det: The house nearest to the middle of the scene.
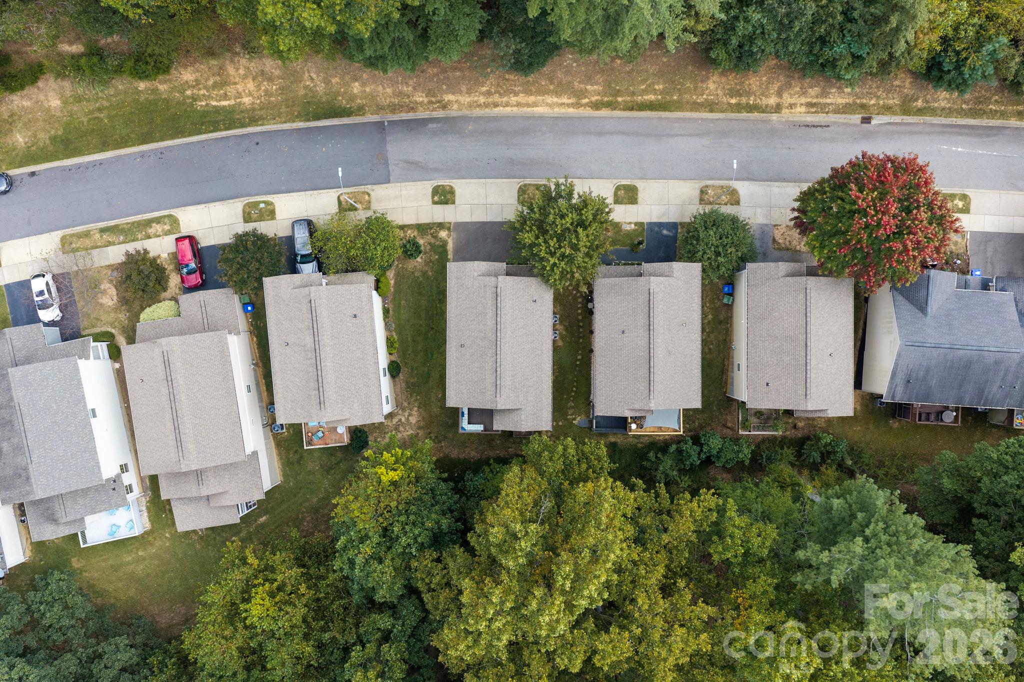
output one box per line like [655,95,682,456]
[445,261,554,432]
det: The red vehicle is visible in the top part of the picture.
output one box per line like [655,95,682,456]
[175,234,209,289]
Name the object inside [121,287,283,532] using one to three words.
house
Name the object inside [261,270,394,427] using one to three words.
house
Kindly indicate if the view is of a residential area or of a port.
residential area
